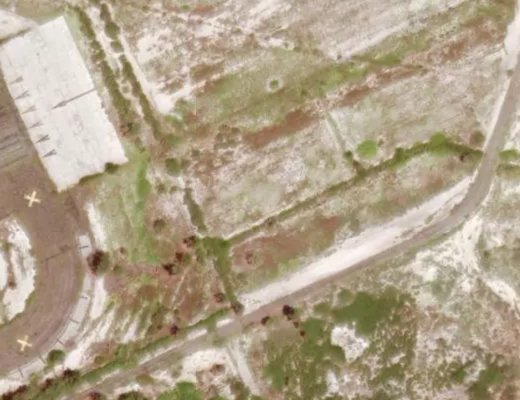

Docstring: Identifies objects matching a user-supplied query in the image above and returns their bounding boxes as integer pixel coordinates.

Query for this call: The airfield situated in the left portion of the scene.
[0,17,127,387]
